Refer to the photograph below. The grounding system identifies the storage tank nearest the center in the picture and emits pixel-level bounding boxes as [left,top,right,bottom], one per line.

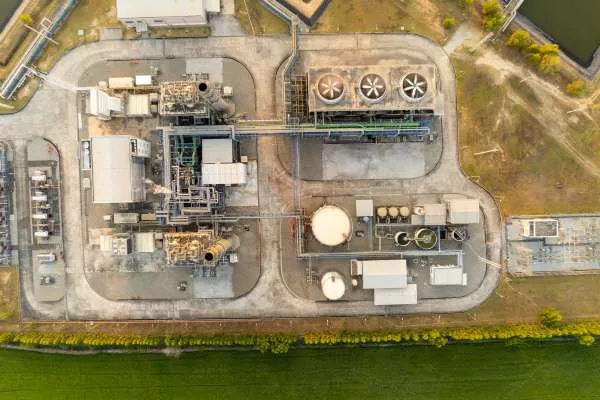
[312,203,353,245]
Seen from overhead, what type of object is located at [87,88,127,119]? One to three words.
house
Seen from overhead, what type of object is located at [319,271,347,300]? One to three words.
storage tank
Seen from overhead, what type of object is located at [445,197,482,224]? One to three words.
shed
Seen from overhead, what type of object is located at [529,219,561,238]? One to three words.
building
